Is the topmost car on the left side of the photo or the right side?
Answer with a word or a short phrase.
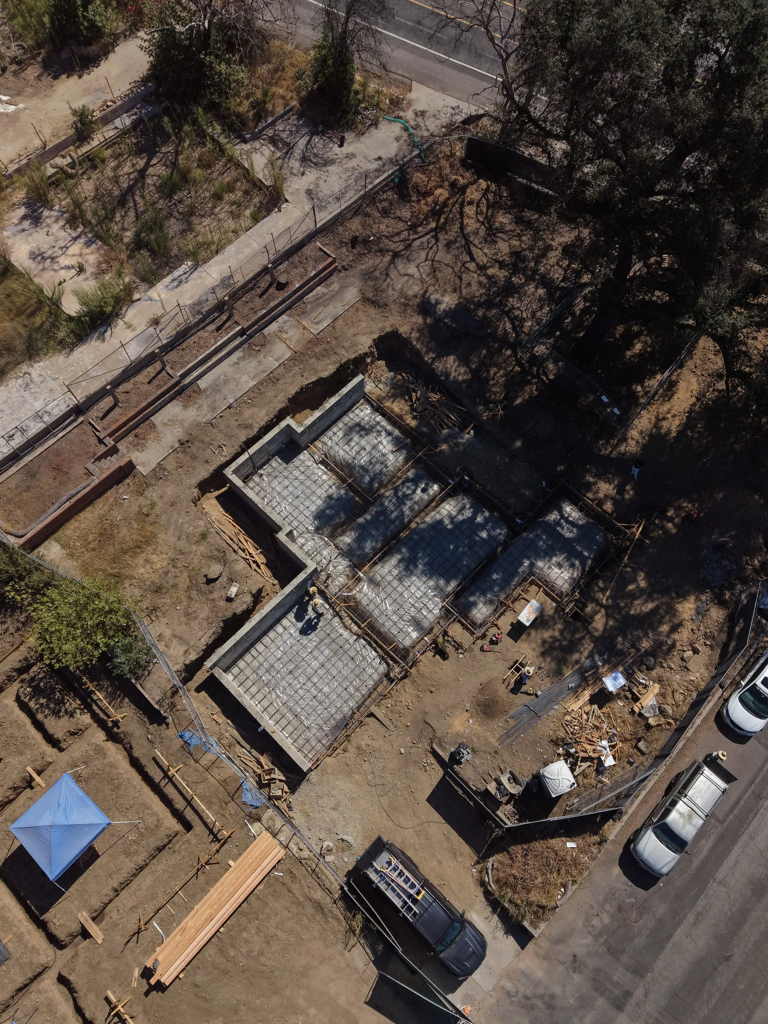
right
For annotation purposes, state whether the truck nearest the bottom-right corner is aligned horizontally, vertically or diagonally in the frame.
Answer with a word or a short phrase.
diagonally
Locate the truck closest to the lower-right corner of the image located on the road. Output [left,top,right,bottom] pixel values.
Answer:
[627,749,741,875]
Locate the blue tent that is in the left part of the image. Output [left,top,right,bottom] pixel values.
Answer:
[9,765,141,897]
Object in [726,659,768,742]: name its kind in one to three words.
car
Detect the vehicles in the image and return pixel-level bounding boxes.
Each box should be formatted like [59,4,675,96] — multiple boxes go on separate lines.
[726,659,768,742]
[627,749,741,875]
[355,834,492,983]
